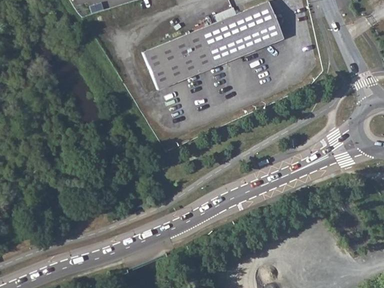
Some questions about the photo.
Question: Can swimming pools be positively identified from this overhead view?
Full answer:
No, there appears to be no swimming pool in this shot.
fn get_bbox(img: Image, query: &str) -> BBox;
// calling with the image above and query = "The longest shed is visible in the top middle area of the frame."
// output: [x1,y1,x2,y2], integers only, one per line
[141,1,284,90]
